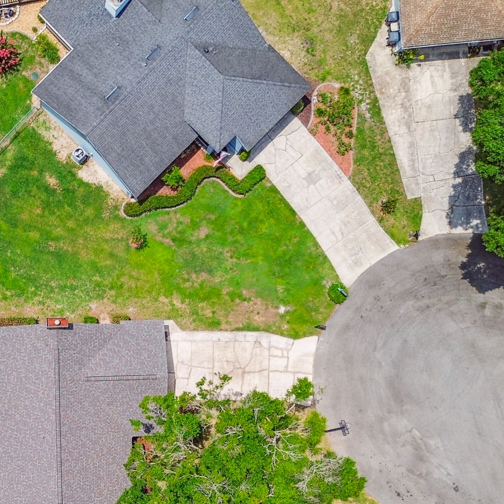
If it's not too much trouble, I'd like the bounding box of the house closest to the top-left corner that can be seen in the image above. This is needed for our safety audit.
[21,0,310,200]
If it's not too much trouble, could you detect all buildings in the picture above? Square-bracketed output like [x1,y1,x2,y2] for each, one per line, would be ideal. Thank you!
[0,317,168,504]
[21,0,310,200]
[390,0,504,58]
